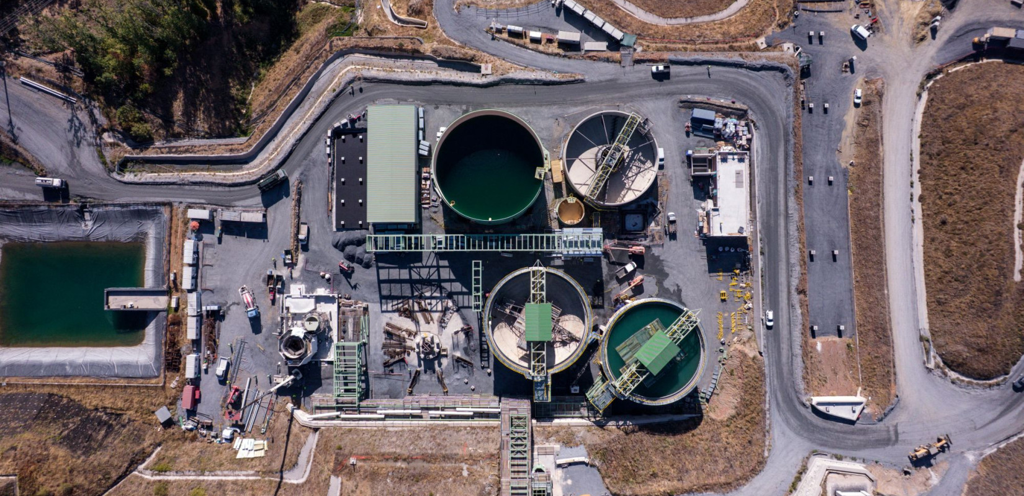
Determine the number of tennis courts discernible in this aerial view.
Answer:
0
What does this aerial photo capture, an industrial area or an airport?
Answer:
industrial area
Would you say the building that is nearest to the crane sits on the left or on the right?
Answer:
left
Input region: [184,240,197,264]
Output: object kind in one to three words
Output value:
building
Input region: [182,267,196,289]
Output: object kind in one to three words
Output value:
building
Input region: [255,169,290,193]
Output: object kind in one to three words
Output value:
truck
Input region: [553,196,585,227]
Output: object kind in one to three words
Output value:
storage tank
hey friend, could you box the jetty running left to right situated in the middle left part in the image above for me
[104,287,169,311]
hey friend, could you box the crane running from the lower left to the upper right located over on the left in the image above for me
[231,367,305,415]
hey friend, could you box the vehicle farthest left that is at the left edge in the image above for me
[33,176,68,190]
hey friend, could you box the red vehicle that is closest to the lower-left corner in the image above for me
[223,386,241,406]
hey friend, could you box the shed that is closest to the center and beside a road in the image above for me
[367,103,421,223]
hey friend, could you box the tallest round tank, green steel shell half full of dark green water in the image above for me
[428,109,550,224]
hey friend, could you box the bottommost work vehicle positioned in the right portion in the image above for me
[904,436,947,462]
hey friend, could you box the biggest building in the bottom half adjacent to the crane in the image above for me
[277,284,341,367]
